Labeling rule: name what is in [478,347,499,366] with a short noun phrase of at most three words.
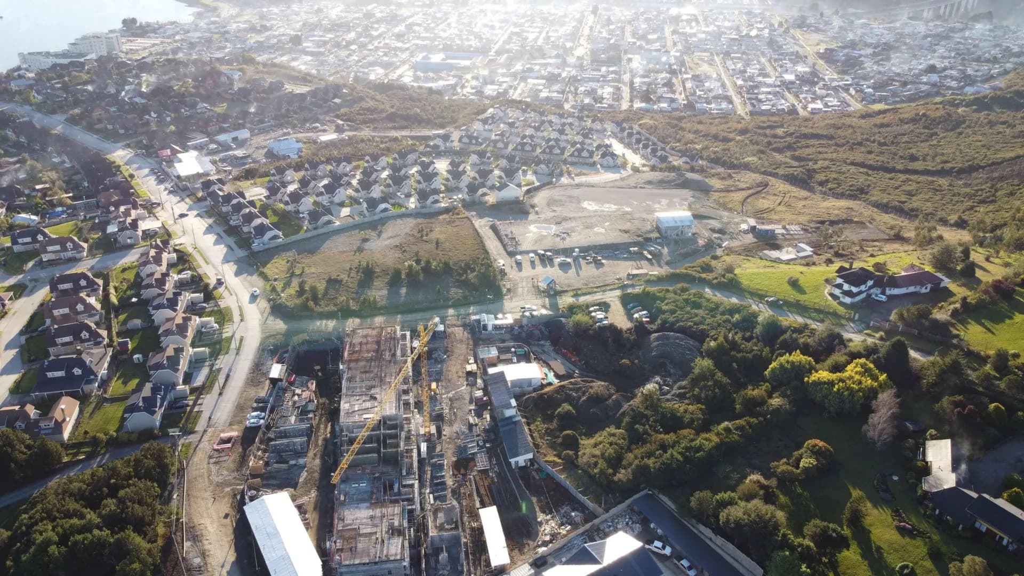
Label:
shed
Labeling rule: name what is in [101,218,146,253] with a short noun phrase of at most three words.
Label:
house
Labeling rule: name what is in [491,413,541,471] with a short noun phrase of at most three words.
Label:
shed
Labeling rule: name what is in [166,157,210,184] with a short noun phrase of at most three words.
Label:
building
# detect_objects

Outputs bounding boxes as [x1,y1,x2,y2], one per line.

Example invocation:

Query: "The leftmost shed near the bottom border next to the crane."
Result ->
[243,487,340,576]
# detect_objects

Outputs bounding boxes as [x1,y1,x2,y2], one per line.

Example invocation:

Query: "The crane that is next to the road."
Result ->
[331,320,443,487]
